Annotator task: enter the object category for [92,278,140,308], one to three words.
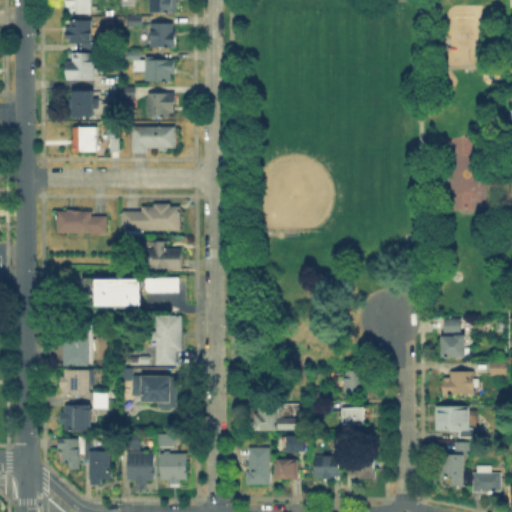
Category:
building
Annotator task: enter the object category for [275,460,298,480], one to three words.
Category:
house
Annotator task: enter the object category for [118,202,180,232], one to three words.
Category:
house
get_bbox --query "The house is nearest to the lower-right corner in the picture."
[474,465,502,496]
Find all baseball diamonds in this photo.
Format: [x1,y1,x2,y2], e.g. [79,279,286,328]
[239,0,419,282]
